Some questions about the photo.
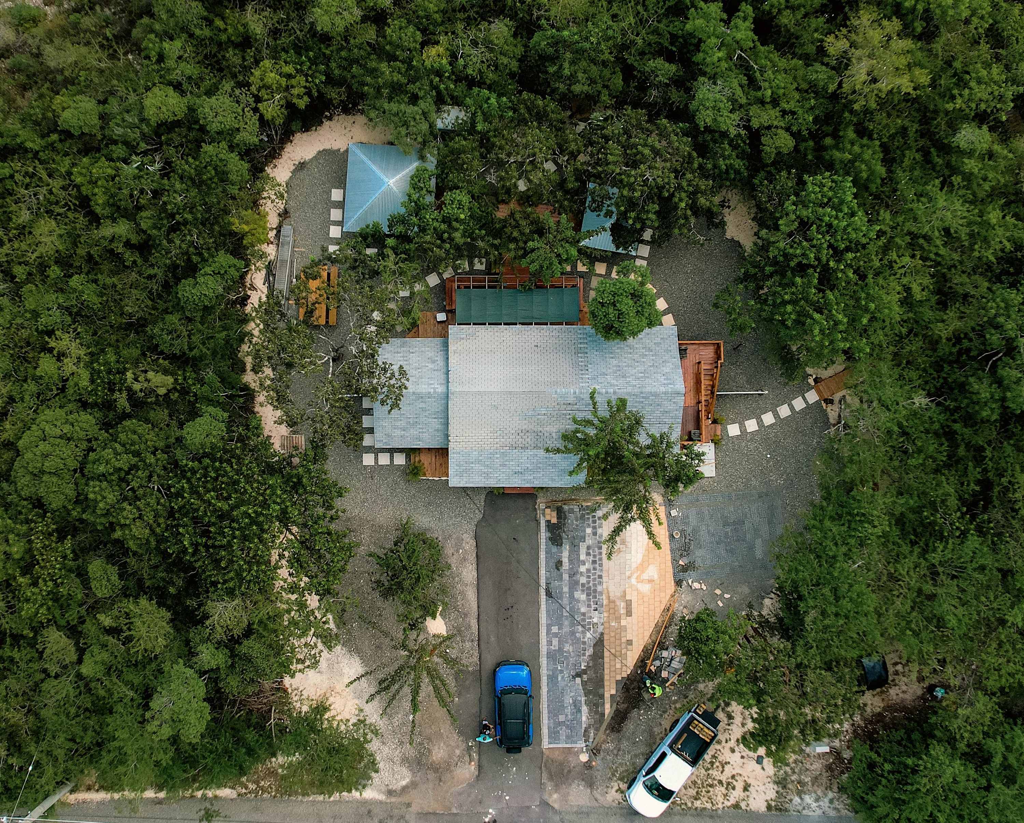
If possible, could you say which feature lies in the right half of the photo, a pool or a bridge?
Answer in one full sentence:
What appears in the right half of the photo is a bridge.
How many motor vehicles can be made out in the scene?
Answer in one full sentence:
Looking from above, you can make out 2 motor vehicles.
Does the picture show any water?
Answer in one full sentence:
No, no water is visible.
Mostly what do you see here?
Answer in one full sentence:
Most of the picture is covered by trees.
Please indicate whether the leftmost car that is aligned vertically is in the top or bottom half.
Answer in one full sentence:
It is in the bottom half that the leftmost car that is aligned vertically appears.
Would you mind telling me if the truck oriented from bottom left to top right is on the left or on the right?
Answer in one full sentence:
The truck oriented from bottom left to top right appears in the right half of the scene.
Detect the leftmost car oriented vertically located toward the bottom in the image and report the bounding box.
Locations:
[490,658,536,756]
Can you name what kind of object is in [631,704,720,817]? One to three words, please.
truck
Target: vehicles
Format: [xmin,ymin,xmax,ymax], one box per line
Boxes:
[490,658,536,756]
[631,704,720,817]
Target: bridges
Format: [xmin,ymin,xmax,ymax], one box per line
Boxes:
[801,360,874,407]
